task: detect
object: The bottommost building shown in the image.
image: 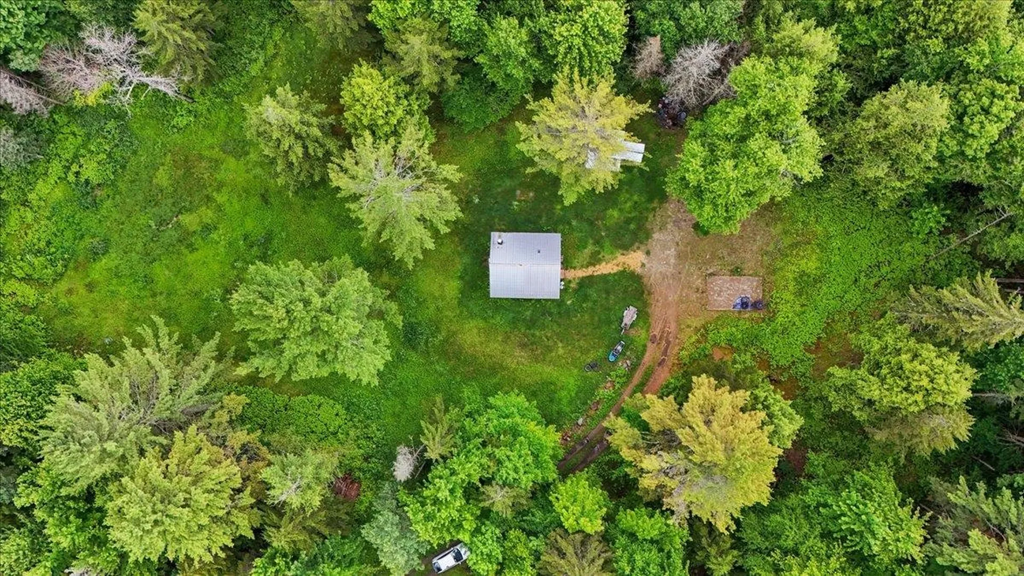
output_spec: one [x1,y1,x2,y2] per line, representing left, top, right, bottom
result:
[489,232,563,298]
